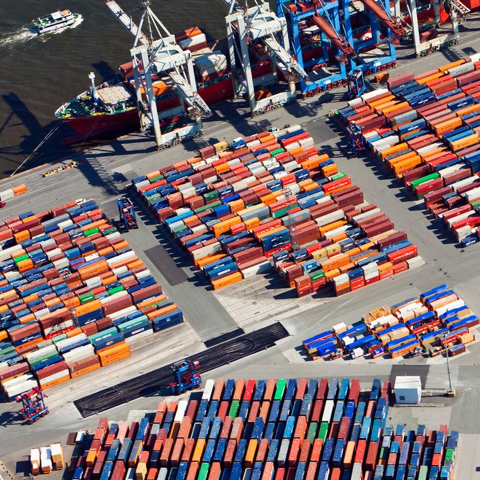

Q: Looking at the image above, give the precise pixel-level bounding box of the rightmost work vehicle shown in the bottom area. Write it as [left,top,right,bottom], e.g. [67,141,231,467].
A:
[170,344,200,386]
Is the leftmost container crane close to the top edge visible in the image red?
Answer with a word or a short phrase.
No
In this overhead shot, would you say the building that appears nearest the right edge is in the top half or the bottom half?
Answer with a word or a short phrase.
bottom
